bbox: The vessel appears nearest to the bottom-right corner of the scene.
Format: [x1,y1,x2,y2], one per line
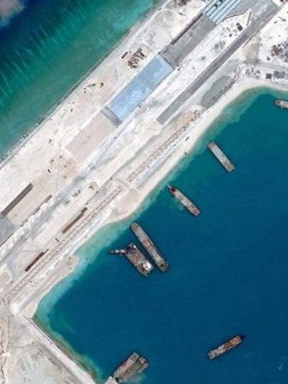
[205,335,245,358]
